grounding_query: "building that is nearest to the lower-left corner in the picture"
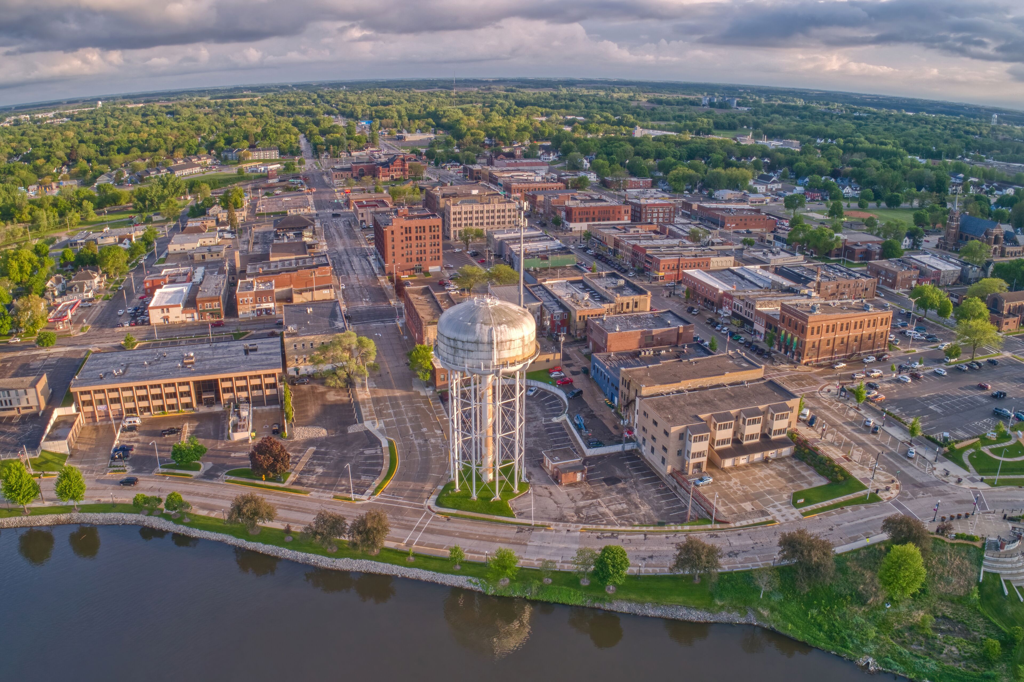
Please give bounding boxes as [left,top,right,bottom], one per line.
[42,413,81,452]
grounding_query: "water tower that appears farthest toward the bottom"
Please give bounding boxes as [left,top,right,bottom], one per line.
[433,294,540,499]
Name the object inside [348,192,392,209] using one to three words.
building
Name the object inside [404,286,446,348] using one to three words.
building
